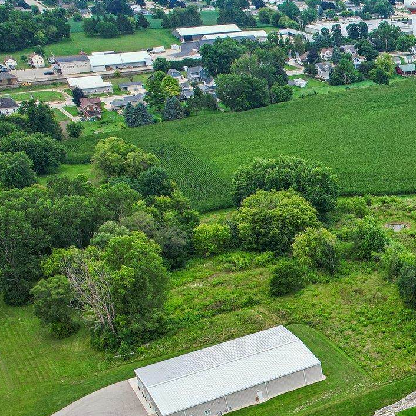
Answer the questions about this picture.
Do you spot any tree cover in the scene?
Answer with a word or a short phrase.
Yes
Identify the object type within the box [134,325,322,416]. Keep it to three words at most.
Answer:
shed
